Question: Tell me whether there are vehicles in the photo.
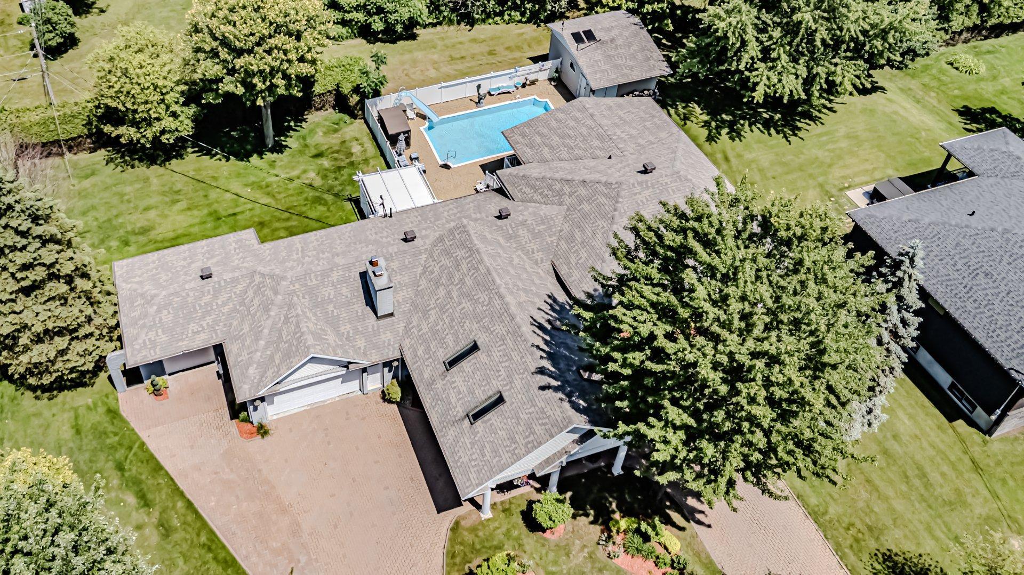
No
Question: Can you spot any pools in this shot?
Yes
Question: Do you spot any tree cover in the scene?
Yes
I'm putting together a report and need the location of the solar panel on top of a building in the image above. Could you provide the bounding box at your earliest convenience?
[577,29,612,60]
